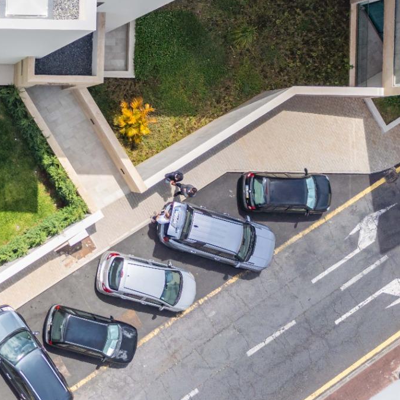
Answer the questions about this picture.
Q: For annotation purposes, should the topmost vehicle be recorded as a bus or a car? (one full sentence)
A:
What you see as the topmost vehicle is a car.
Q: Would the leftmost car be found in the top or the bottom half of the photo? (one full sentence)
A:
You can find the leftmost car in the bottom half.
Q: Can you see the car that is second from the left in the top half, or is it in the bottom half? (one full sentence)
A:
It is in the bottom half that the car that is second from the left appears.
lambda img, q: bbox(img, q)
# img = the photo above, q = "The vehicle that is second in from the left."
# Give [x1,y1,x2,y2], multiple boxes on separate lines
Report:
[40,306,137,369]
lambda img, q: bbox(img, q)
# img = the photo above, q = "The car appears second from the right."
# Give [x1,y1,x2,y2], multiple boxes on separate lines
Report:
[161,202,271,274]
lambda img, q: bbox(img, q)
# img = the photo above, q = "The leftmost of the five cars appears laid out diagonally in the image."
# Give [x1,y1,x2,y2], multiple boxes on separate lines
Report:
[0,302,79,400]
